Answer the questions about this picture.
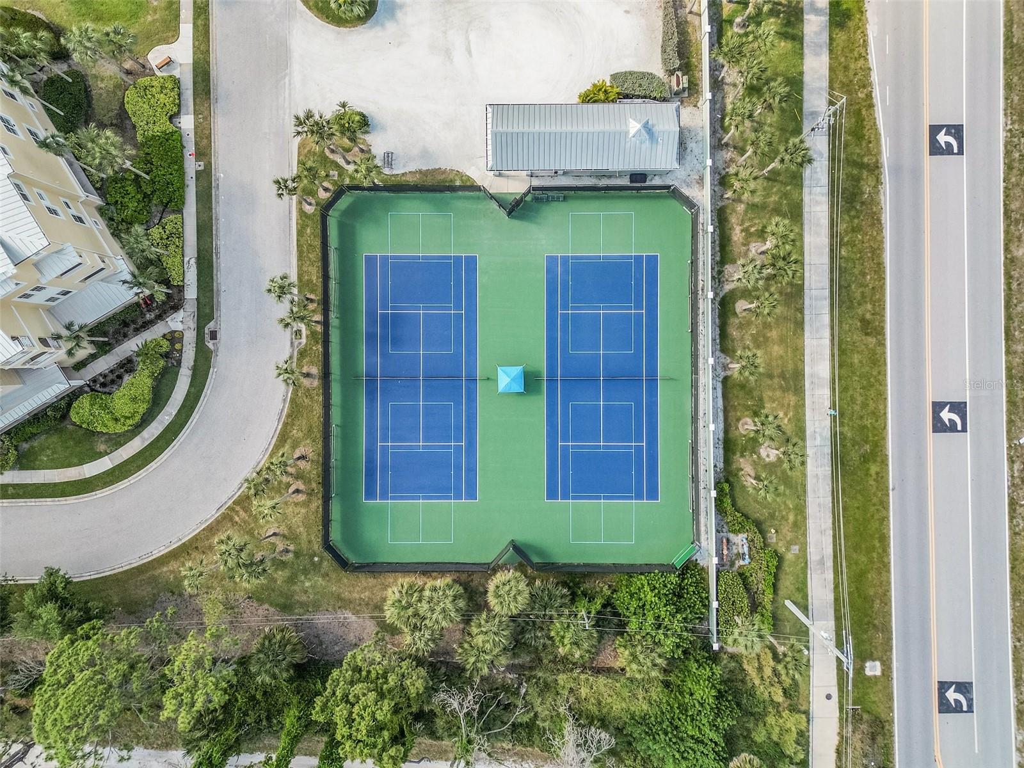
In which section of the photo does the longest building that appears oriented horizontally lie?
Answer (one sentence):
The longest building that appears oriented horizontally appears toward the top of the photo.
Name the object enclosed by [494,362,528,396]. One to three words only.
tent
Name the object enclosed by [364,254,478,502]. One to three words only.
tennis court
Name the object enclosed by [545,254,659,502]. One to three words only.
tennis court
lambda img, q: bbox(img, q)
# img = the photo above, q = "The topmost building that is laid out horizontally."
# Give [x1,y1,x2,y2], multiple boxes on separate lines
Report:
[485,103,681,178]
